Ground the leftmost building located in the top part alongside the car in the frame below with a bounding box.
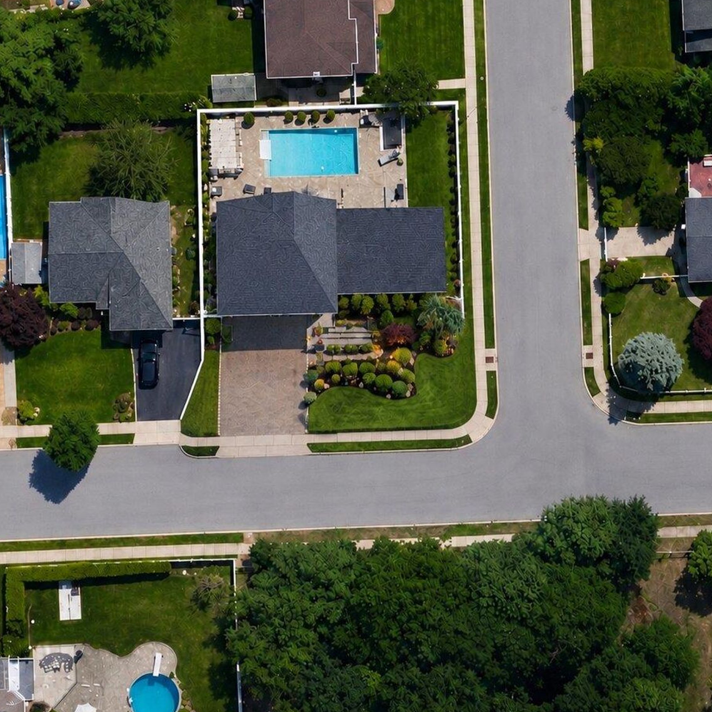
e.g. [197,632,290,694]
[48,196,173,331]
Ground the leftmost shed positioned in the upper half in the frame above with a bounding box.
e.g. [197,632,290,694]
[11,242,42,285]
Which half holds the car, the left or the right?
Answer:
left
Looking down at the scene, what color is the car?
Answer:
black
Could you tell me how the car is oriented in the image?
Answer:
from top to bottom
